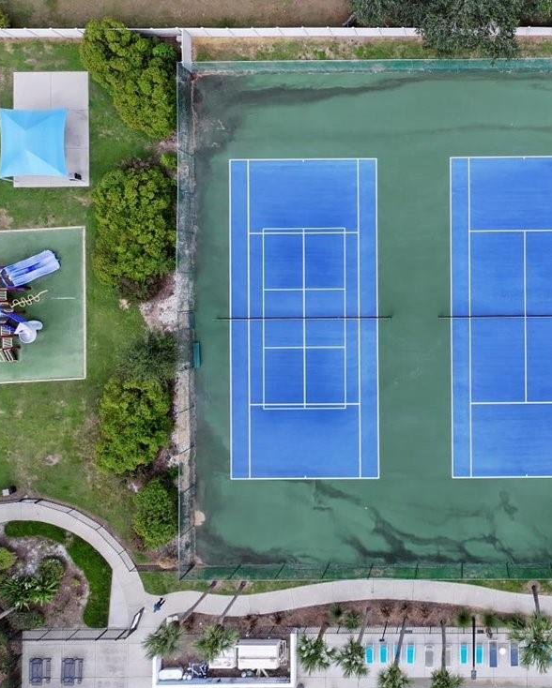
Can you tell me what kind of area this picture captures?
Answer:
sports ground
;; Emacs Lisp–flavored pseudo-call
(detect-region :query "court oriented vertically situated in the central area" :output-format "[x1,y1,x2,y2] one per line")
[194,73,418,566]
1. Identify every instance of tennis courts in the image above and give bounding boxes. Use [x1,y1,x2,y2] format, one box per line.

[415,73,552,565]
[194,73,418,566]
